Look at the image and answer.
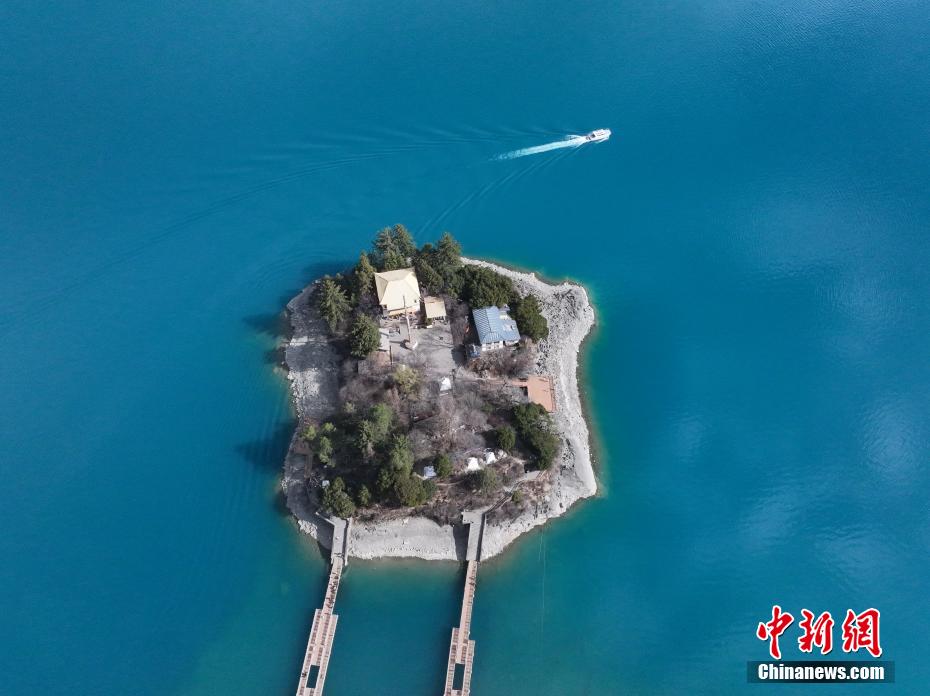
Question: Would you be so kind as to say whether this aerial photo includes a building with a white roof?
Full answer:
Yes, there's a building with a white roof here.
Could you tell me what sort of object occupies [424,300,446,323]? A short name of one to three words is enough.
building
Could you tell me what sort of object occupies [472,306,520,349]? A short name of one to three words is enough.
house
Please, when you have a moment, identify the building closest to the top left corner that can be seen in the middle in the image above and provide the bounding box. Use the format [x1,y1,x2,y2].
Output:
[376,267,421,323]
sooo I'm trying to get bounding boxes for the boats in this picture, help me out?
[584,129,612,143]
